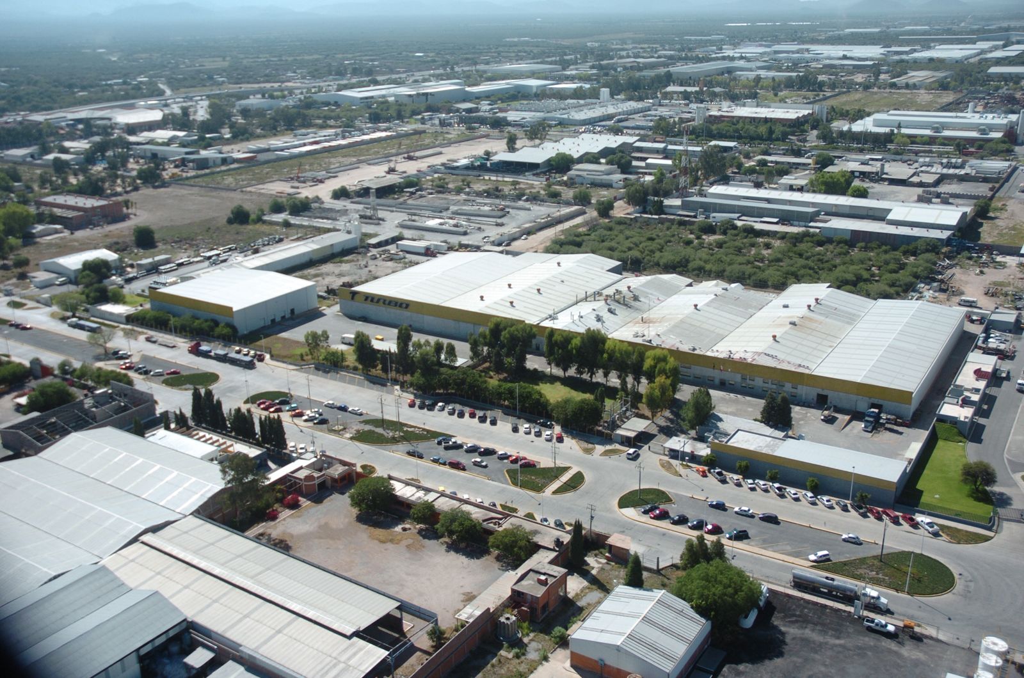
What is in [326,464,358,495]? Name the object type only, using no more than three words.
house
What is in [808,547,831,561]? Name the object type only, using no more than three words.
vehicle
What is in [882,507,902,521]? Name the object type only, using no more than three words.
vehicle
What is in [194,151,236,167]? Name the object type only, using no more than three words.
building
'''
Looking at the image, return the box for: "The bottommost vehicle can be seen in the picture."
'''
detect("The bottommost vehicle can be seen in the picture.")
[864,619,895,635]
